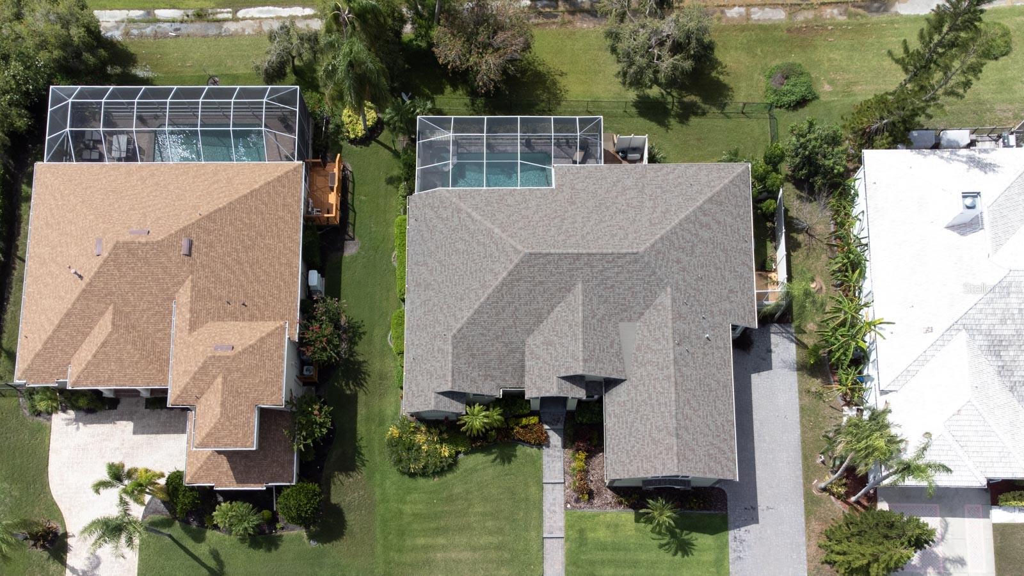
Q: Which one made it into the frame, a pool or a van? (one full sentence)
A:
I can see a pool in this picture.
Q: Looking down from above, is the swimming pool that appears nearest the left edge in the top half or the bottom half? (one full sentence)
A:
You can find the swimming pool that appears nearest the left edge in the top half.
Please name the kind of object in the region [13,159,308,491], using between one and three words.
house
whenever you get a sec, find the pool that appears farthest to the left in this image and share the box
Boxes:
[148,120,267,161]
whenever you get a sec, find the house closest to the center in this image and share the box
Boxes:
[400,162,761,489]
